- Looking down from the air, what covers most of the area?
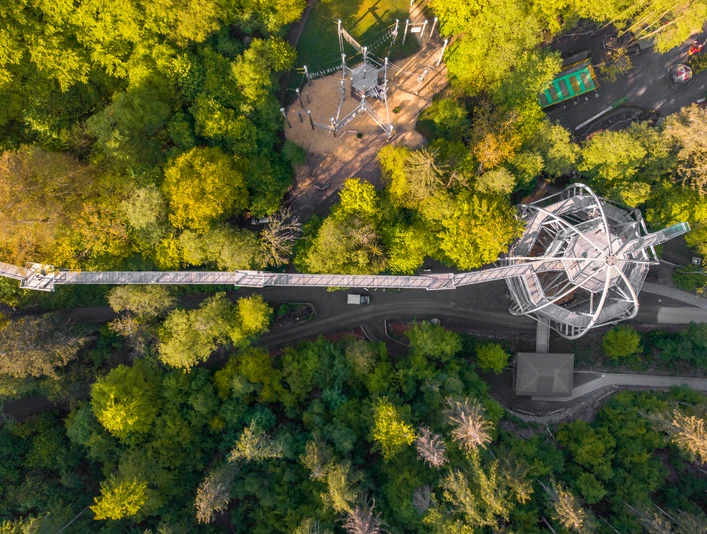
trees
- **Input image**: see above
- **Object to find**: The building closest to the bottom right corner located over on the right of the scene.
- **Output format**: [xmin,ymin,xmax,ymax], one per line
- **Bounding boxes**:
[508,352,573,396]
